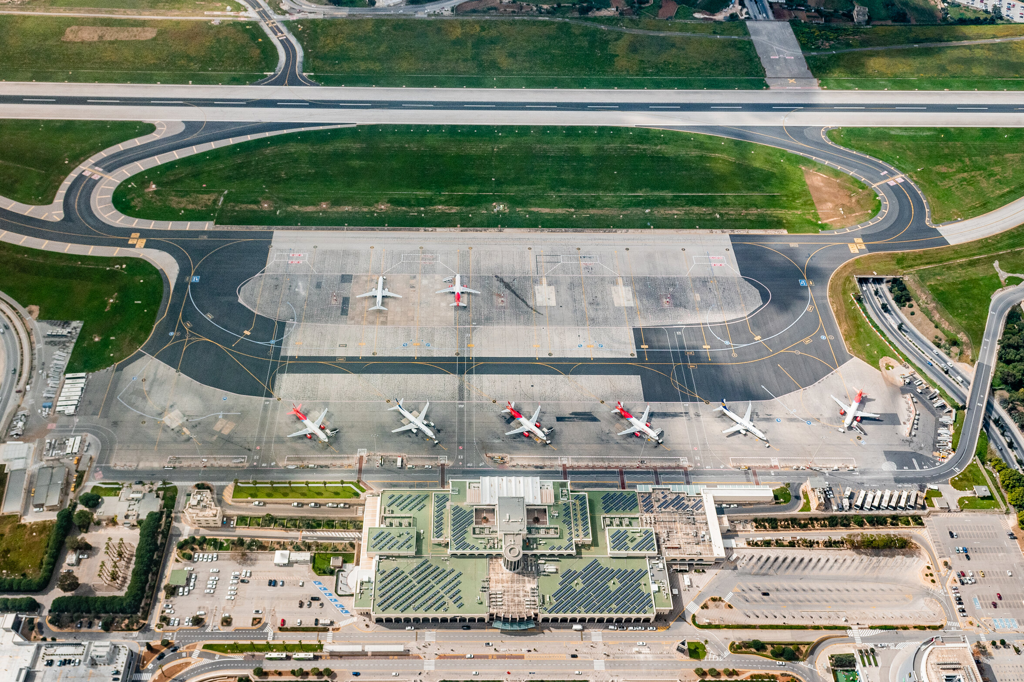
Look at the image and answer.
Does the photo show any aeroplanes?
Yes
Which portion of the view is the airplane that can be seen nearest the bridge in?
right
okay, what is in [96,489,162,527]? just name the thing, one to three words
building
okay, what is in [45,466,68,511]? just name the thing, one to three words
shed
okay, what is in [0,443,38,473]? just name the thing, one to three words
building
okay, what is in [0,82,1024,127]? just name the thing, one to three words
runway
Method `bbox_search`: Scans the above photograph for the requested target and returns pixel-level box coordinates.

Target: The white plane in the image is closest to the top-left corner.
[356,276,402,310]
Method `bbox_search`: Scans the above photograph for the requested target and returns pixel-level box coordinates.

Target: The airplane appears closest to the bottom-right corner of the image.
[832,386,880,429]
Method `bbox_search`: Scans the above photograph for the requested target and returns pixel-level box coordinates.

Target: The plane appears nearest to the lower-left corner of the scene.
[285,402,328,442]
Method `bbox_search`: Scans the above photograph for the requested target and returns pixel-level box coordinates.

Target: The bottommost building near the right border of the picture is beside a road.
[909,634,980,682]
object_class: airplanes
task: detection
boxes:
[832,386,880,429]
[717,400,768,441]
[501,401,547,441]
[285,402,328,442]
[613,401,660,441]
[391,400,437,440]
[356,276,402,310]
[435,274,481,306]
